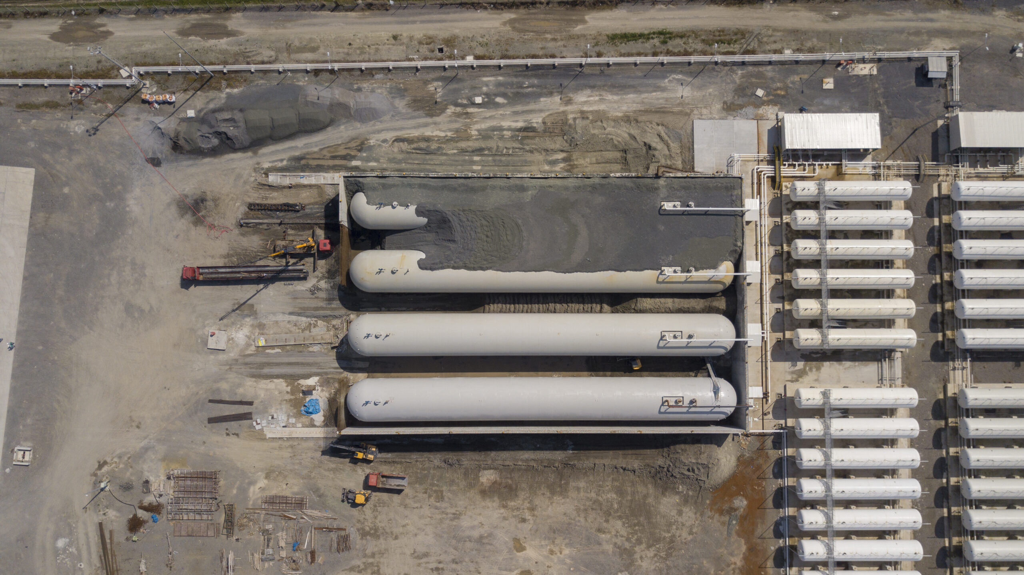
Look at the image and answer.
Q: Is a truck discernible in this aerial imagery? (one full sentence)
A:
Yes, a truck can be made out from above.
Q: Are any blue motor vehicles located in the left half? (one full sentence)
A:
No, looking in the left half, there is no blue motor vehicle.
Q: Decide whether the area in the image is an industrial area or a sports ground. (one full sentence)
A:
This looks like an industrial area.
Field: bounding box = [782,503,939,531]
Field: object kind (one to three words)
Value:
storage tank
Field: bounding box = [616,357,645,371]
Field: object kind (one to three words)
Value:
work vehicle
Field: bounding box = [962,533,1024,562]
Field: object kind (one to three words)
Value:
storage tank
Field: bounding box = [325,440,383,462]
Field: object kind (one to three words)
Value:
work vehicle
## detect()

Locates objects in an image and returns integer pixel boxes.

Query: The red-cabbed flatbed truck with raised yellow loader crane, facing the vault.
[236,227,333,271]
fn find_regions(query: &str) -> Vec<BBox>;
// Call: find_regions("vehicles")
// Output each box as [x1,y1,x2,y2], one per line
[180,265,305,282]
[339,489,374,504]
[367,471,409,491]
[616,357,645,371]
[325,440,383,462]
[236,227,333,271]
